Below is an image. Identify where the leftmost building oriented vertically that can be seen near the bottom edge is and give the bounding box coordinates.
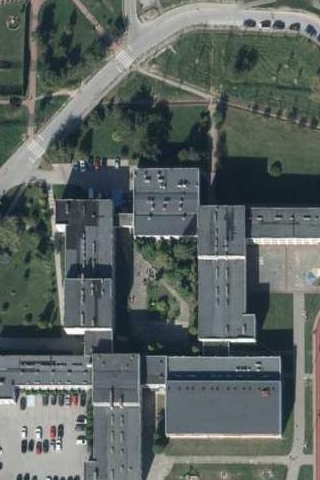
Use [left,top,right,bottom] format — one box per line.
[84,353,141,480]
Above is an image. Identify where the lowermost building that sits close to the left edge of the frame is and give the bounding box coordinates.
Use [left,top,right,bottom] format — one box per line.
[0,356,92,402]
